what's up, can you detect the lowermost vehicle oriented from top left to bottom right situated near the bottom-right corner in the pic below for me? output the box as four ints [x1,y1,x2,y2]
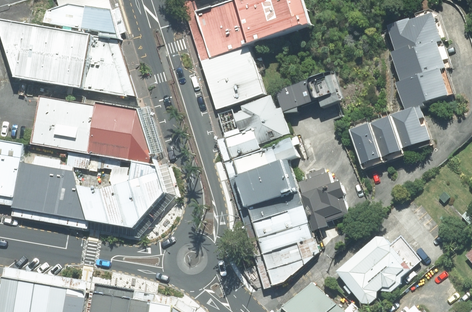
[416,248,430,266]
